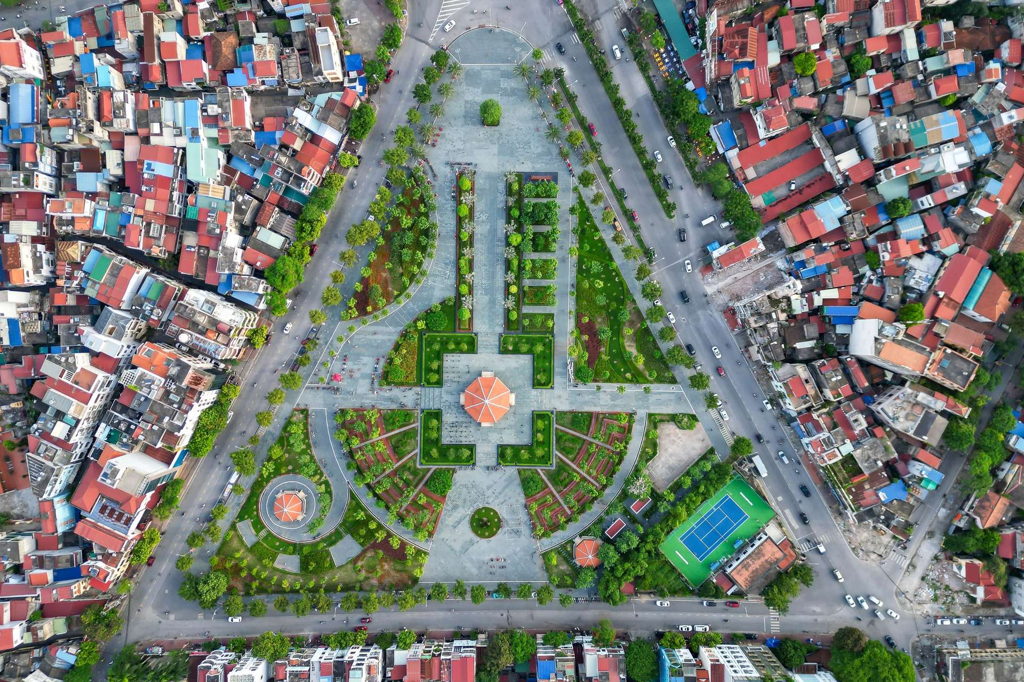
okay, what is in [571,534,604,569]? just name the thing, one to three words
building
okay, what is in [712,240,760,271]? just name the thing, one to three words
house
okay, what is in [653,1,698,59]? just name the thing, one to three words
house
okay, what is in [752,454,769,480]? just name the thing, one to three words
vehicle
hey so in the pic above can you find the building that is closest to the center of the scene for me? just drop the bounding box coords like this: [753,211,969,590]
[460,371,516,427]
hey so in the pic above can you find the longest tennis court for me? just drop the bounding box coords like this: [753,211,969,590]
[659,474,776,588]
